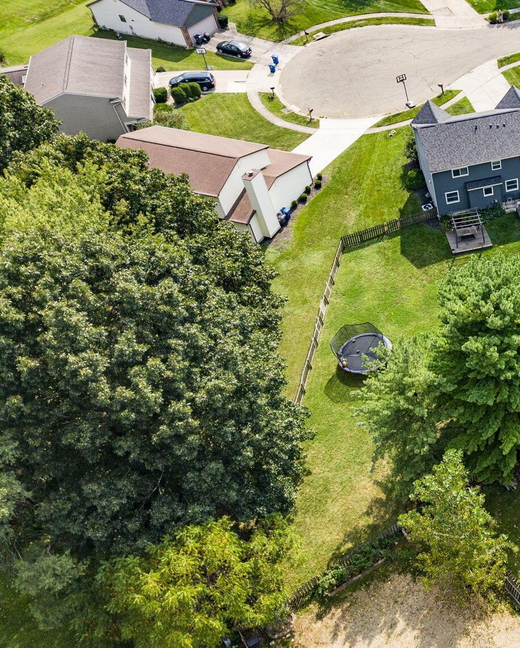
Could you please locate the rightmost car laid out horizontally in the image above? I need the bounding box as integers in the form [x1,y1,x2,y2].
[212,39,252,58]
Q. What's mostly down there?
trees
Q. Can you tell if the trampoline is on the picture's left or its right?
right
